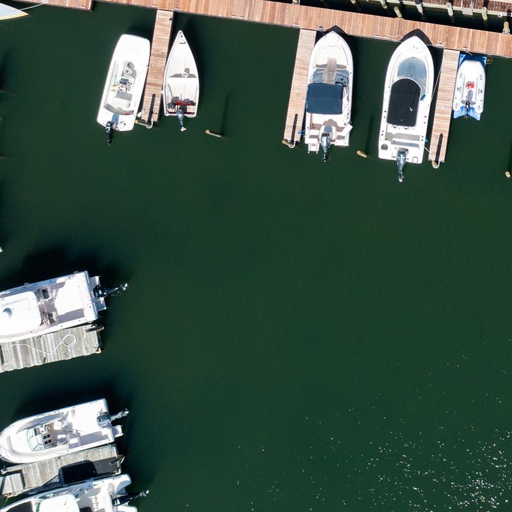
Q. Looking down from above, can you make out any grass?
No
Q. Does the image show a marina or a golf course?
marina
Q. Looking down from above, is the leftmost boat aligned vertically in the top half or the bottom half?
top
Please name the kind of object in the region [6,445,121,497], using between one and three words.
pier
